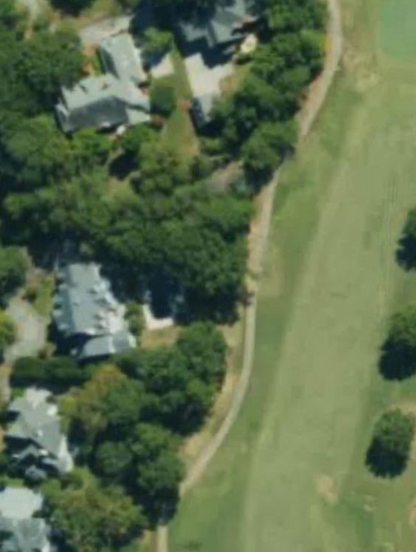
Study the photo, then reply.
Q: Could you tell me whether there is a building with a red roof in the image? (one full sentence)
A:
No, there is no building with a red roof in the image.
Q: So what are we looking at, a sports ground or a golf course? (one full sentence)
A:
This image shows a golf course.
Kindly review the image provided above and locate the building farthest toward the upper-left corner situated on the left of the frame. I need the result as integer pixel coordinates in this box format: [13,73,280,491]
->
[56,30,159,130]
